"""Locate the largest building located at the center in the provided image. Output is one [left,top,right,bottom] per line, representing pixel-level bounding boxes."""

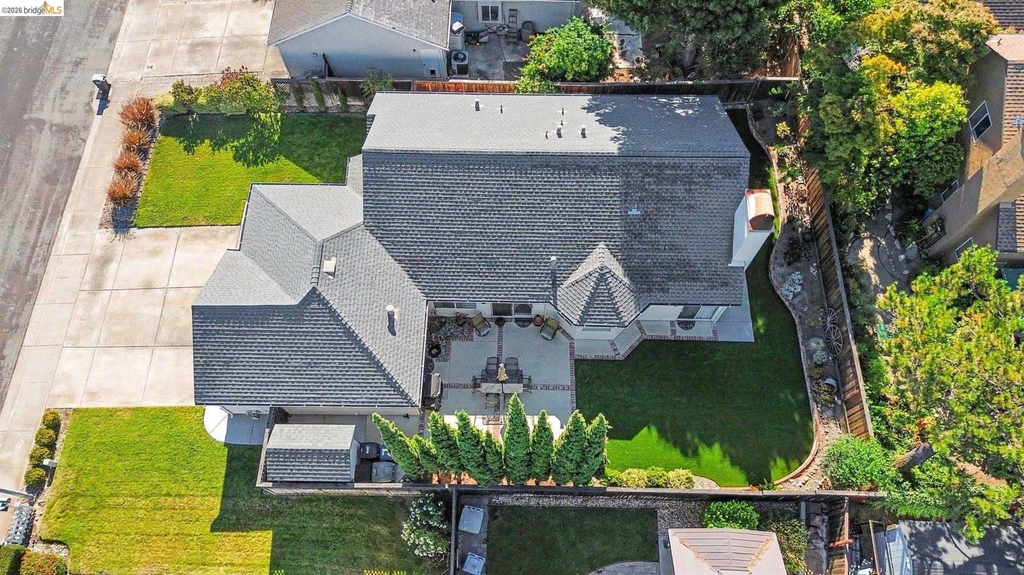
[187,91,773,413]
